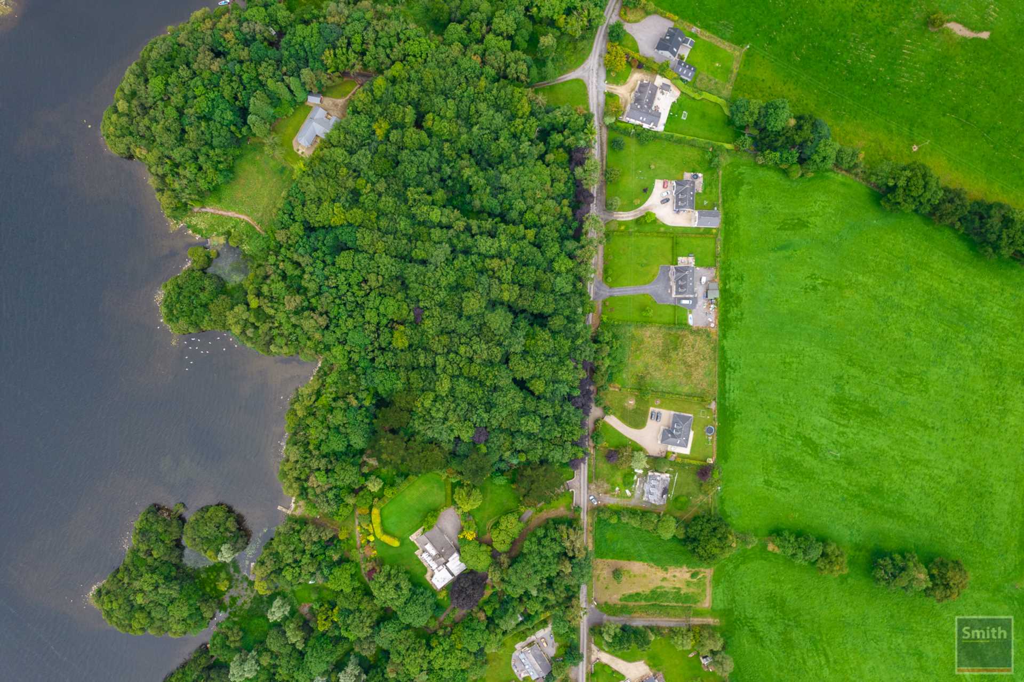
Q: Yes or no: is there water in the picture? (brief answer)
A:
Yes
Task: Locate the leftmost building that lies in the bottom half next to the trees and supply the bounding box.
[416,524,467,590]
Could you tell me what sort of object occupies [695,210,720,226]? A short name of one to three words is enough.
building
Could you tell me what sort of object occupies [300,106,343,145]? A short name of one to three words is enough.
house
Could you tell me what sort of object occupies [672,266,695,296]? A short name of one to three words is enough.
house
